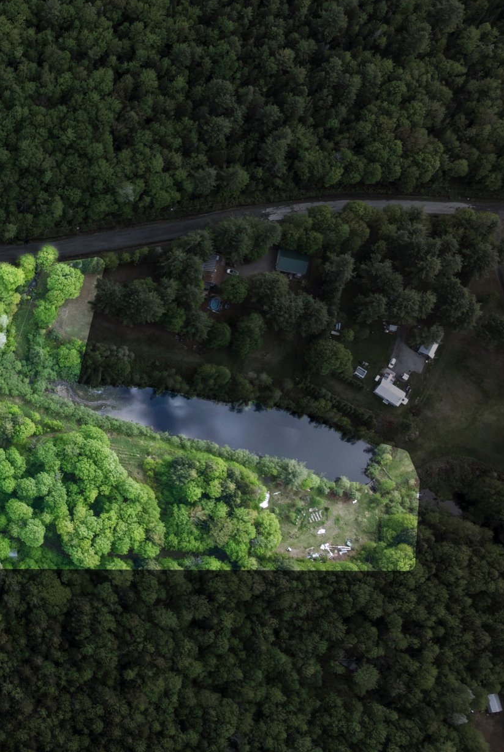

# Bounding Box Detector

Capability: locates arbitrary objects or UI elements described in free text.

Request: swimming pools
[207,297,222,314]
